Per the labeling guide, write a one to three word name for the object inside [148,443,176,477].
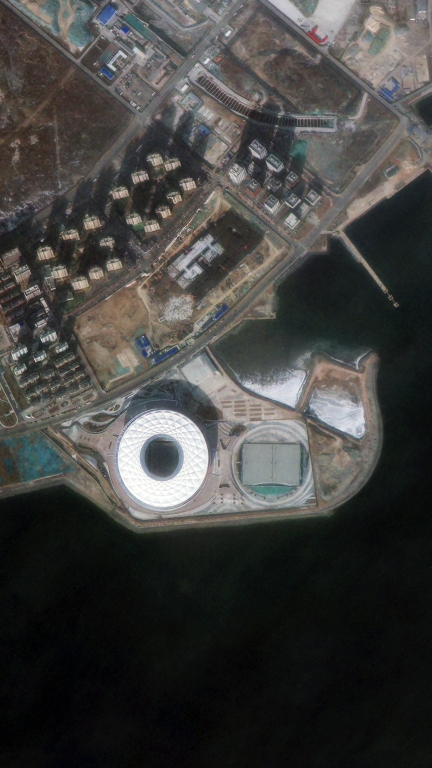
sports field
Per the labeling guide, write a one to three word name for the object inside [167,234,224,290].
building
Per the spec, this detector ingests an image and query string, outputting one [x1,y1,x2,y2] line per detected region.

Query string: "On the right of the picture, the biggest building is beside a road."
[187,65,337,131]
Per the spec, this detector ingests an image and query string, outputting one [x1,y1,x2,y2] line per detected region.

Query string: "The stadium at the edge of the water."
[112,408,212,516]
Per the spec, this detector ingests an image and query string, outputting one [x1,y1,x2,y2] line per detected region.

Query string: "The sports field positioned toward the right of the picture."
[230,420,315,506]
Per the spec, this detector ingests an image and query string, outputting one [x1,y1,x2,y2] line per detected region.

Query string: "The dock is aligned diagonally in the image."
[340,231,386,290]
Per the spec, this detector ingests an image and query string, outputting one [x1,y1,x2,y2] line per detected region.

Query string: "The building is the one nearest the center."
[181,354,217,388]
